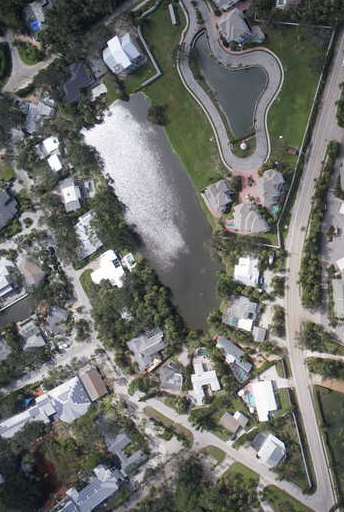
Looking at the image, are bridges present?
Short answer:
No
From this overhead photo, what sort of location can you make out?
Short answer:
residential area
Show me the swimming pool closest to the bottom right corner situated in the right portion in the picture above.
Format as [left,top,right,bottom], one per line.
[240,383,256,413]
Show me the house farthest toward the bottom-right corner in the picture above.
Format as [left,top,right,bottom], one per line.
[251,432,286,465]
